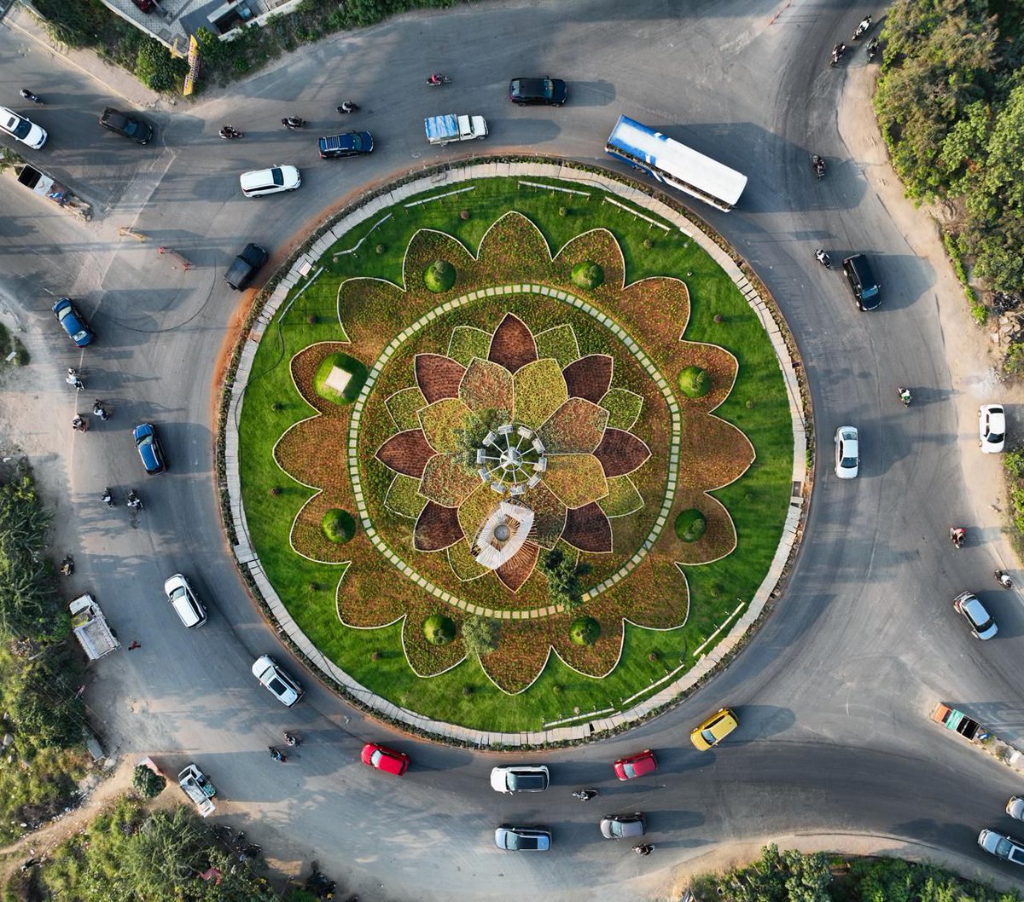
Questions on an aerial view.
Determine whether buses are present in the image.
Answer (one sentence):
Yes, this view includes a bus.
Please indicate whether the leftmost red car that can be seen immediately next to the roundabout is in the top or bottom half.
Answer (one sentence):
The leftmost red car that can be seen immediately next to the roundabout is in the bottom half of the image.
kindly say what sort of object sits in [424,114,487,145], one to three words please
truck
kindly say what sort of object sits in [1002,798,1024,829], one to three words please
car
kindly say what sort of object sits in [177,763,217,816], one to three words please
van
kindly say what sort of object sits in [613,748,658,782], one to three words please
car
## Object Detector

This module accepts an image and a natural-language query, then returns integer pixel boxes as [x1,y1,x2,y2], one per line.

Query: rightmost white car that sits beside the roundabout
[831,425,861,478]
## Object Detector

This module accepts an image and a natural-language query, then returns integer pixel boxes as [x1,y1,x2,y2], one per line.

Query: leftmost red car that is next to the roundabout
[361,740,410,776]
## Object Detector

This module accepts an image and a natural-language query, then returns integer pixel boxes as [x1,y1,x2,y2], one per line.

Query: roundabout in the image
[213,150,817,756]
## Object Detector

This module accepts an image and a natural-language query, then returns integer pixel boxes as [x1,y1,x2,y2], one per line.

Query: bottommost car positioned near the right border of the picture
[975,830,1024,876]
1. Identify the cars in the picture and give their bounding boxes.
[689,709,739,748]
[975,403,1006,453]
[496,822,551,854]
[599,811,646,841]
[0,102,53,148]
[166,573,207,629]
[842,254,882,310]
[491,764,548,795]
[318,128,374,160]
[97,104,157,147]
[510,76,567,108]
[975,830,1024,876]
[222,243,271,292]
[132,423,169,476]
[240,164,301,197]
[831,425,861,478]
[361,740,410,776]
[613,748,658,782]
[1002,798,1024,829]
[251,655,304,706]
[55,298,96,349]
[952,590,992,639]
